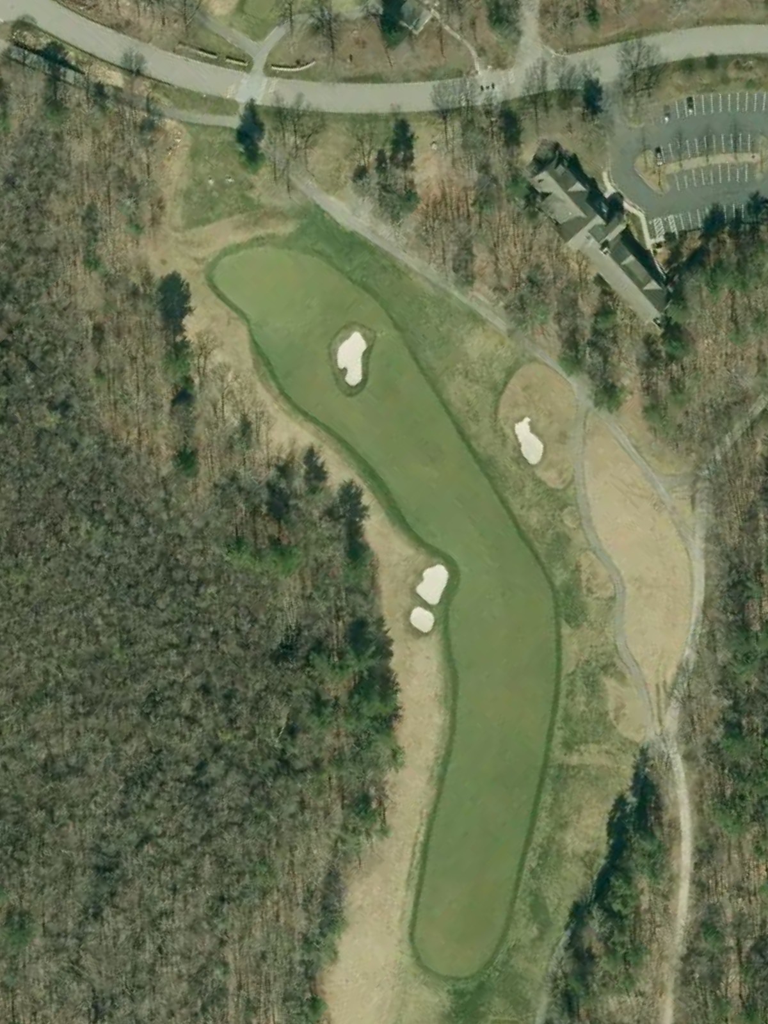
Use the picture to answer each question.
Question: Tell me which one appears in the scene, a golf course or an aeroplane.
golf course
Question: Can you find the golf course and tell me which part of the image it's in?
center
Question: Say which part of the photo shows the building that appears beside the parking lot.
top right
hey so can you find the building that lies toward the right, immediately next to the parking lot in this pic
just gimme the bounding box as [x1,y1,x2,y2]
[533,161,672,334]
